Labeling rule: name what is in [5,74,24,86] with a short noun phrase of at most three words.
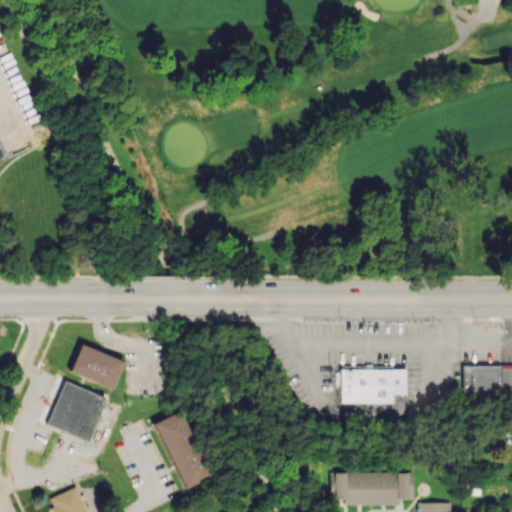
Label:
vehicle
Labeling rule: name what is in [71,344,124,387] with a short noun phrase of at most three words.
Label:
building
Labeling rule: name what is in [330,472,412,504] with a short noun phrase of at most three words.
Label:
house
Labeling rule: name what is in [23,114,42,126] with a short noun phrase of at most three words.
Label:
vehicle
